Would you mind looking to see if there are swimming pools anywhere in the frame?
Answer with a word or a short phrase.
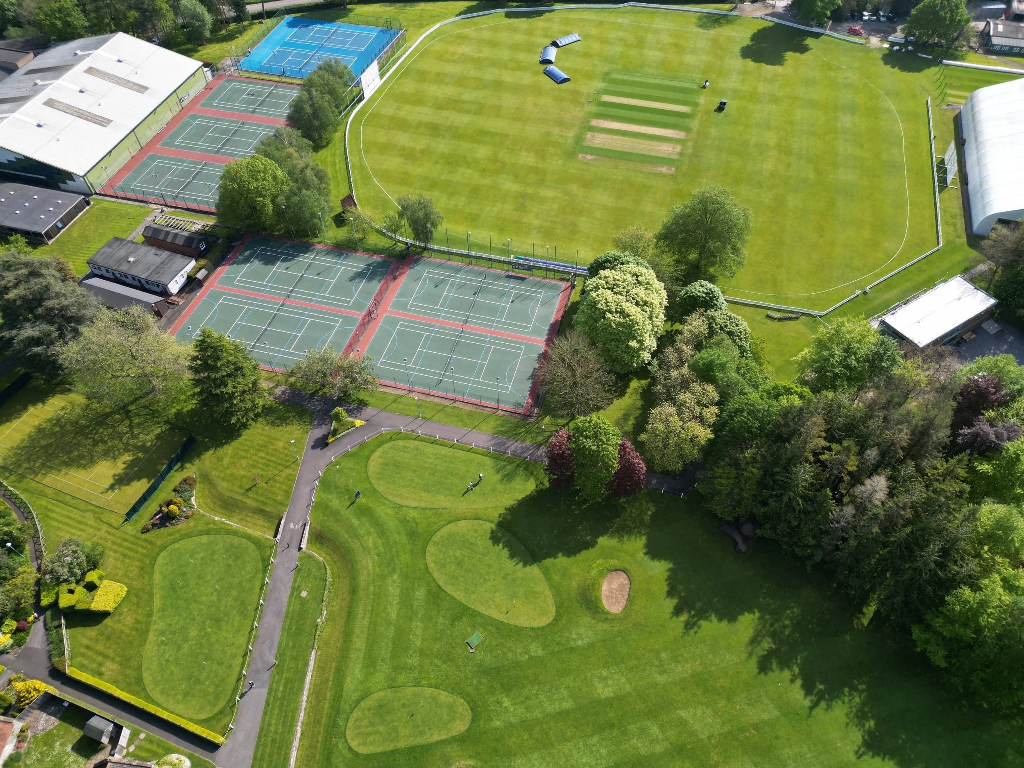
No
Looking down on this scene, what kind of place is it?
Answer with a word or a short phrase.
sports ground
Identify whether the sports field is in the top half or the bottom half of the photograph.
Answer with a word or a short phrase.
top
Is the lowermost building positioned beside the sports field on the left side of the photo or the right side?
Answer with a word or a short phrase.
right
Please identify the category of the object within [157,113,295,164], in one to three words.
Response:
tennis court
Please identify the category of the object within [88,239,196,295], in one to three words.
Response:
shed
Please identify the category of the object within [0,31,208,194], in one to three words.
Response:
building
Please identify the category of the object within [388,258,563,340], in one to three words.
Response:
tennis court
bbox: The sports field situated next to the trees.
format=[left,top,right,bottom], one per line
[346,5,940,315]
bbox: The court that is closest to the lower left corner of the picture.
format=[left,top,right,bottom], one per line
[0,377,188,520]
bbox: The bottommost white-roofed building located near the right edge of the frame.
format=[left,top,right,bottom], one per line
[868,276,1001,359]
